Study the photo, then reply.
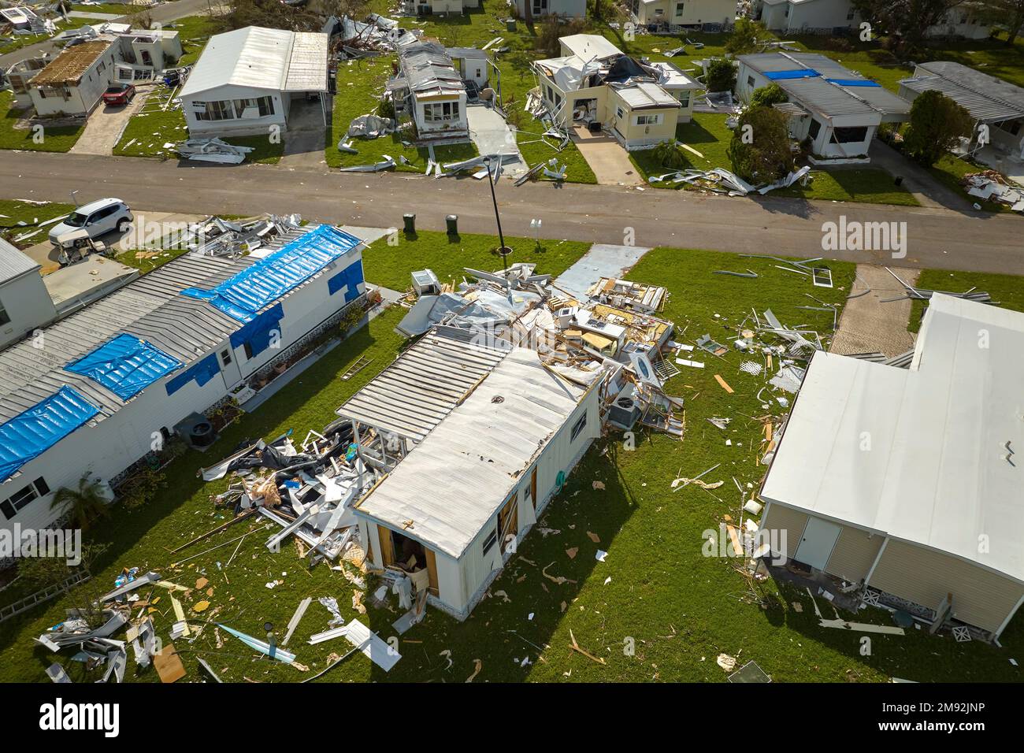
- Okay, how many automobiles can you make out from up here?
2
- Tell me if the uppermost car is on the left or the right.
left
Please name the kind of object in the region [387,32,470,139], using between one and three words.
house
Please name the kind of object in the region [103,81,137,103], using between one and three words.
car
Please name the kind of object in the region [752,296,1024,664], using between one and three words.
house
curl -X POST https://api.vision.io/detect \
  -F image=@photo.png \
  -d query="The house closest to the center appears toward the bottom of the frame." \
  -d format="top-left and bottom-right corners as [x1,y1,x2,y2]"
[332,316,604,620]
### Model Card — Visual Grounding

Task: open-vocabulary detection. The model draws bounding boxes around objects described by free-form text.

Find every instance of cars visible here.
[45,199,132,255]
[103,81,137,103]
